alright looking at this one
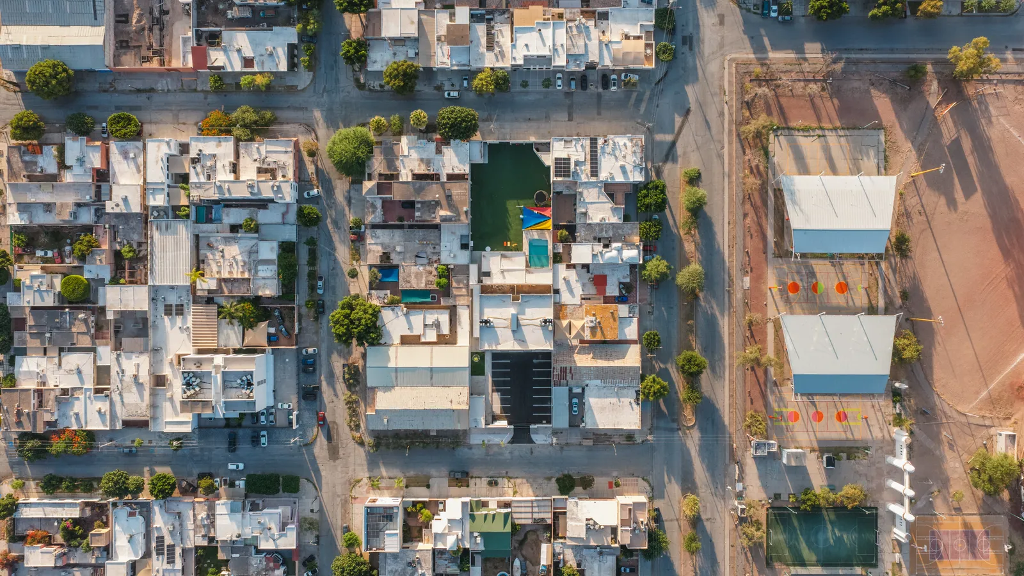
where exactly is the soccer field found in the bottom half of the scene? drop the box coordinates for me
[767,507,878,568]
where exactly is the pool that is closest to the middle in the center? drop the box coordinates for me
[529,239,549,269]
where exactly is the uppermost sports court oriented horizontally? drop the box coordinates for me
[771,127,886,177]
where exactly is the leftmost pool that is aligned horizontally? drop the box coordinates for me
[401,290,431,302]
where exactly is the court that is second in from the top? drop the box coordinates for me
[773,260,887,314]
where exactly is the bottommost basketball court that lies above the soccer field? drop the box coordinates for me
[773,396,887,441]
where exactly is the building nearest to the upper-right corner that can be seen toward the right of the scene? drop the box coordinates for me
[770,172,906,260]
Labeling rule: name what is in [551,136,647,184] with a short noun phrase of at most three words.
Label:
house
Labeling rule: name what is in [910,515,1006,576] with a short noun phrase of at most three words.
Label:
basketball court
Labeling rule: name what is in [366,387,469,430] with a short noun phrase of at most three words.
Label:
building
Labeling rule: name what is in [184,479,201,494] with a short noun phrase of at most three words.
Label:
vehicle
